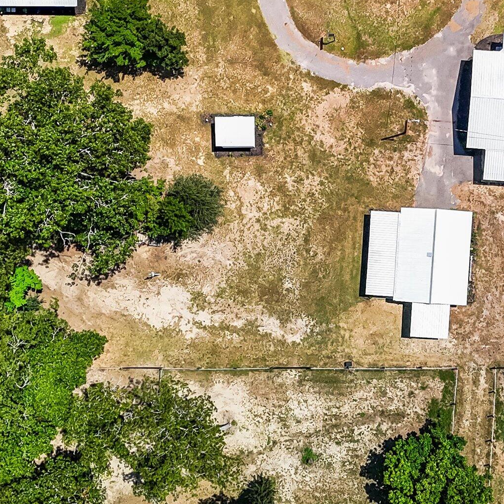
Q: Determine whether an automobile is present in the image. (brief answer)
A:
No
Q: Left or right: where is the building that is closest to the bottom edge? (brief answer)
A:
right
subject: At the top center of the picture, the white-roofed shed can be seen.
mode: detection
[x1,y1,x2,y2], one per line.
[214,116,257,148]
